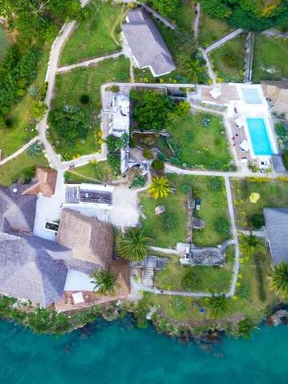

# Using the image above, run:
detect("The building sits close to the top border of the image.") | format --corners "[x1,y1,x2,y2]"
[118,8,176,78]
